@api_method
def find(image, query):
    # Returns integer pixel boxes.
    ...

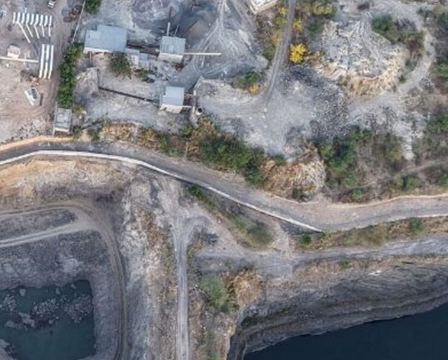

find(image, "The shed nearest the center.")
[157,85,184,114]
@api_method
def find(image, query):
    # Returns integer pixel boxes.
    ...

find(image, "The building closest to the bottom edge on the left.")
[56,108,71,129]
